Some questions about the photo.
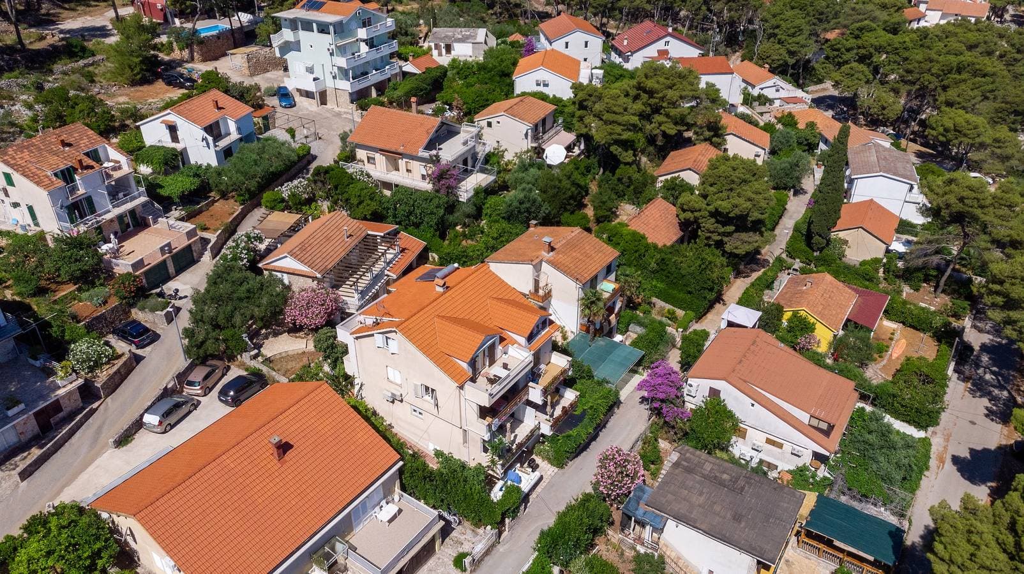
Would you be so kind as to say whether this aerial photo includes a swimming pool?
Yes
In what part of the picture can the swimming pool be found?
top left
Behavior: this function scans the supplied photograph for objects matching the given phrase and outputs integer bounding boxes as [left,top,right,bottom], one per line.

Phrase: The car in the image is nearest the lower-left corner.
[139,391,199,429]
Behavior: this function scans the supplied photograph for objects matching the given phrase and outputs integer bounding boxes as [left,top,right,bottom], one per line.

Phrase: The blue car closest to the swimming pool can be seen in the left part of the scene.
[275,81,293,102]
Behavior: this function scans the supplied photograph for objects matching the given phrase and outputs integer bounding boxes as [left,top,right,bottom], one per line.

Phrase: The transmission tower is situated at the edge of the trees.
[706,5,722,56]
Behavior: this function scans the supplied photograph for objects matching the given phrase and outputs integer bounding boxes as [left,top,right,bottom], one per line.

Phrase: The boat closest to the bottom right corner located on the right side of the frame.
[892,339,908,360]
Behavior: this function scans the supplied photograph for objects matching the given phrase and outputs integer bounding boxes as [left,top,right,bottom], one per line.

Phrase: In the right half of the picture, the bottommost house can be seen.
[620,442,806,574]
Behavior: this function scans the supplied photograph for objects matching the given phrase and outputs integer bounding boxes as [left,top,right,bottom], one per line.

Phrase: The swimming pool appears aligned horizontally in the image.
[180,18,255,43]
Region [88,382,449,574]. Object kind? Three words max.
house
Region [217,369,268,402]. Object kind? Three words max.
car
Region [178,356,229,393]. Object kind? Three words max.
car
